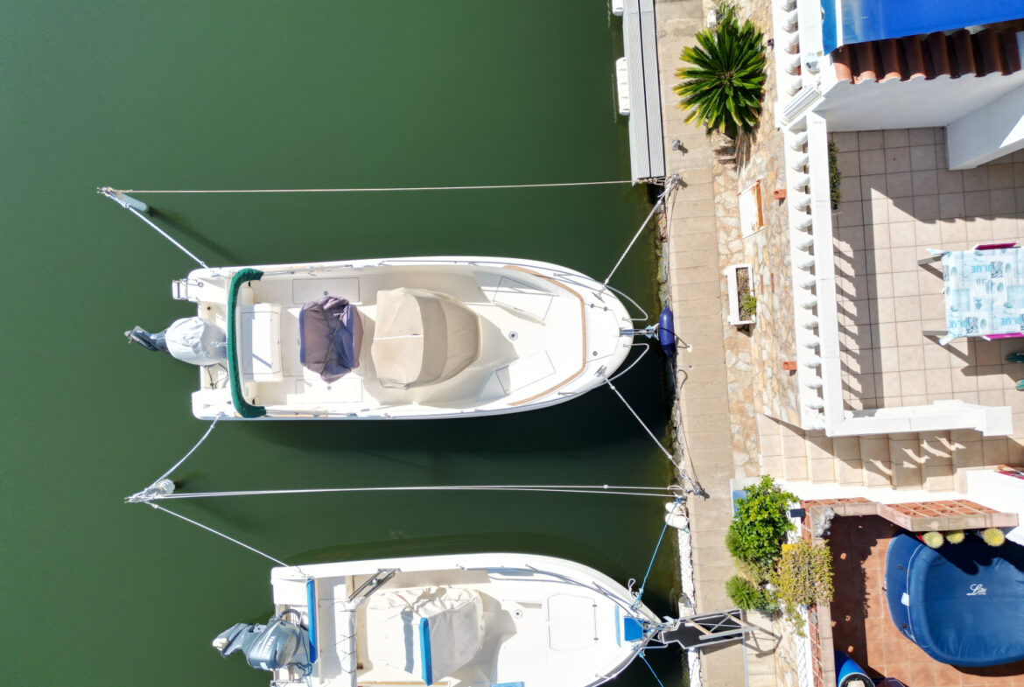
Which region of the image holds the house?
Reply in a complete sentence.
Look in the top right portion of the view to spot the house.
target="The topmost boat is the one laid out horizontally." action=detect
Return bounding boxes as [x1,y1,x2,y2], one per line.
[123,255,658,421]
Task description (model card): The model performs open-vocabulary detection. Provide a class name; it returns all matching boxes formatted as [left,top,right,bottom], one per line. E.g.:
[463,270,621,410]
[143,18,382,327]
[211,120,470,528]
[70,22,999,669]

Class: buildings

[771,0,1024,169]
